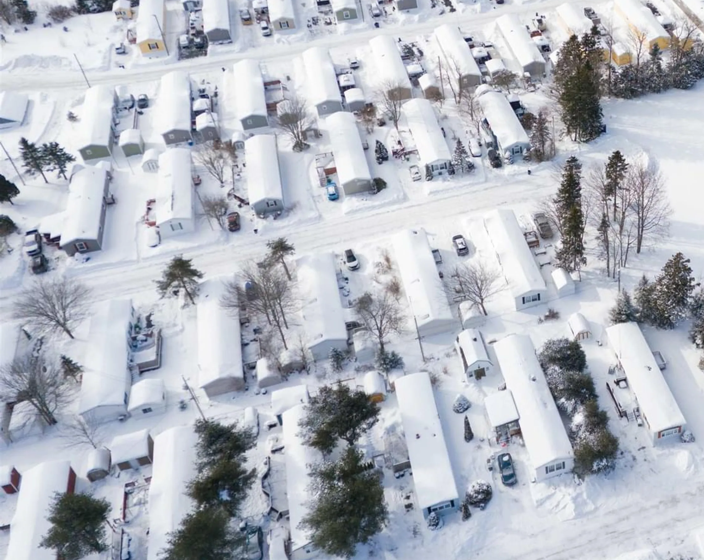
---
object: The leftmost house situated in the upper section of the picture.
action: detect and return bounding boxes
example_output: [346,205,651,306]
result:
[0,90,39,131]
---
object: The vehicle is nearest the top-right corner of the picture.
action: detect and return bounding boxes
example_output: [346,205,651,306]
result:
[584,8,596,22]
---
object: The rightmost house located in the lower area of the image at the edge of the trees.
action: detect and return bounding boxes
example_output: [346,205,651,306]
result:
[602,325,688,449]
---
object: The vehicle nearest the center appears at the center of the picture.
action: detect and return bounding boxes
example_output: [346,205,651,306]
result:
[344,249,360,272]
